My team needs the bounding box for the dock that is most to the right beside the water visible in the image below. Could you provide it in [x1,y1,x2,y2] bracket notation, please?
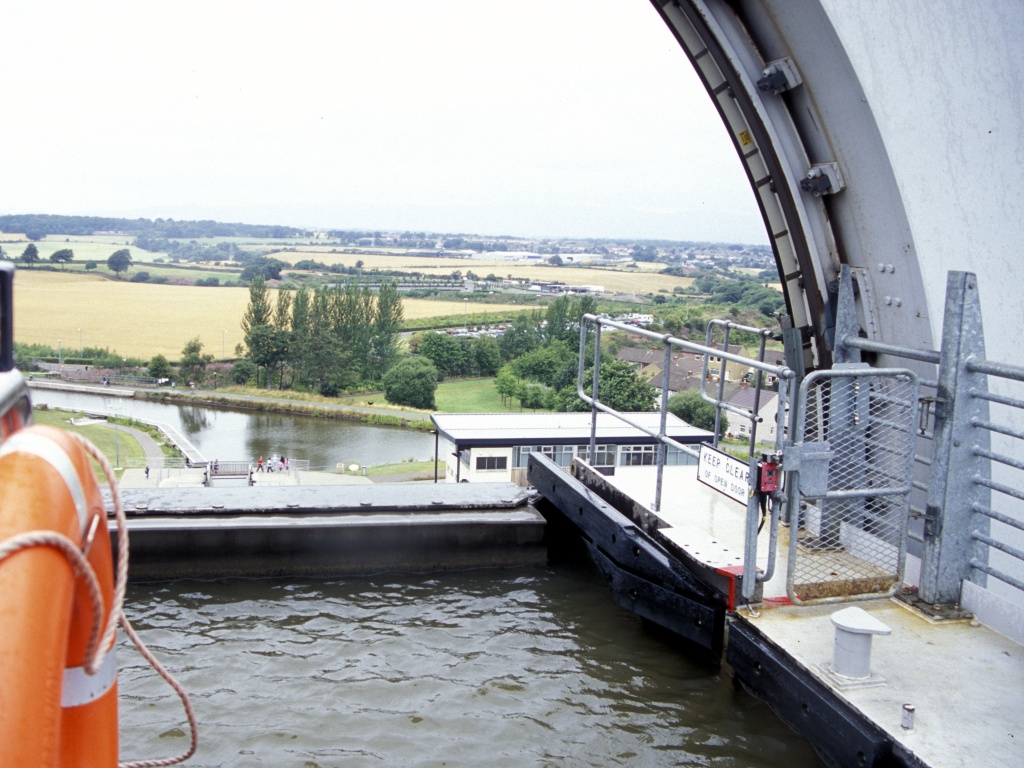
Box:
[151,419,210,465]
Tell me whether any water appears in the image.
Yes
